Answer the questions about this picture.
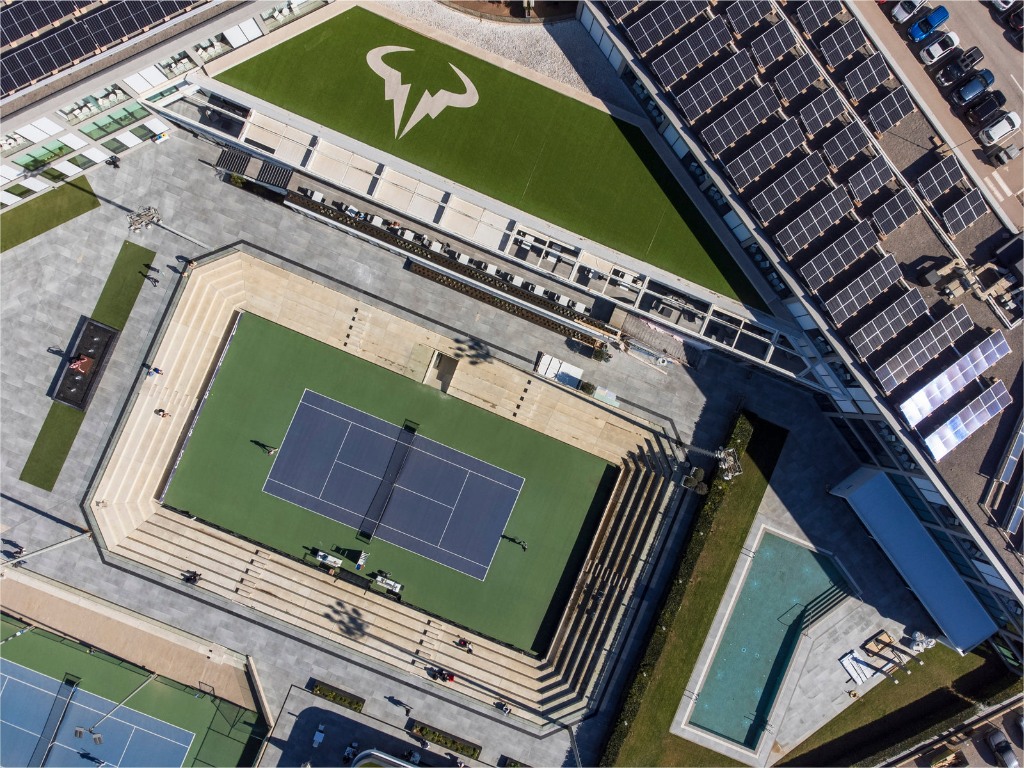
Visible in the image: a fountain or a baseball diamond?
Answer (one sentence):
The image shows a fountain.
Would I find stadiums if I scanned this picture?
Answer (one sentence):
Yes, the picture does show a stadium.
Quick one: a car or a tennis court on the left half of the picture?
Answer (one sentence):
The feature located on the left half of the picture is a tennis court.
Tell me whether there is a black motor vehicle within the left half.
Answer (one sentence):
No, the scene shows no black motor vehicle within the left half.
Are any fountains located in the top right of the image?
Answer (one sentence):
No, no fountain is visible in the top right of the image.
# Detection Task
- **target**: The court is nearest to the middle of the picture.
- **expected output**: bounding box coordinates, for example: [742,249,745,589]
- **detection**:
[173,316,613,647]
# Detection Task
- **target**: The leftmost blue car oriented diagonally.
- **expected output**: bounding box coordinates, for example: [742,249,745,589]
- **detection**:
[905,0,960,42]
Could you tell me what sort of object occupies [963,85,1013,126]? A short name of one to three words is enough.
car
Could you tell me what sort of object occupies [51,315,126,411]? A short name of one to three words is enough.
fountain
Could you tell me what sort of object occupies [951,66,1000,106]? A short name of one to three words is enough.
car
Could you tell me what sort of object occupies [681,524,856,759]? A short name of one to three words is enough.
swimming pool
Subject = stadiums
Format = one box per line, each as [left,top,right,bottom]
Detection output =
[93,250,680,724]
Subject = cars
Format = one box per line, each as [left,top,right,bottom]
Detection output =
[951,66,1000,106]
[1003,3,1024,35]
[905,0,960,42]
[982,729,1024,768]
[889,0,937,27]
[963,85,1013,126]
[977,107,1024,148]
[937,39,994,84]
[1013,715,1024,741]
[919,26,966,65]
